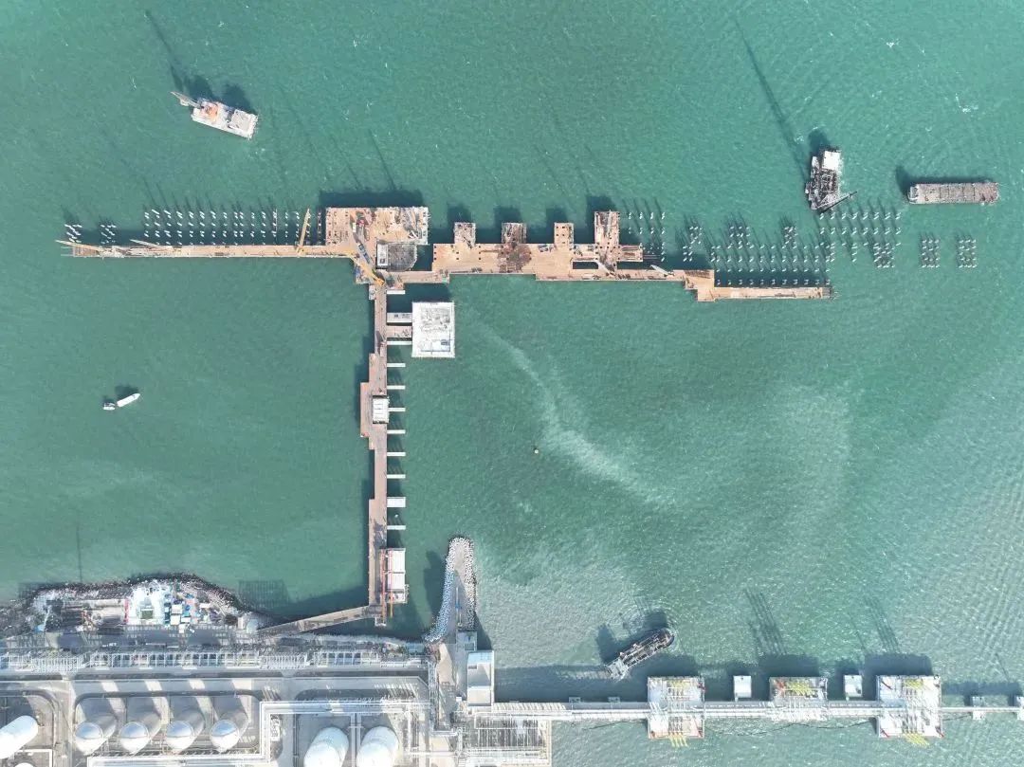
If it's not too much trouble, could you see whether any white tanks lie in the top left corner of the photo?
No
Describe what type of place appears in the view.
port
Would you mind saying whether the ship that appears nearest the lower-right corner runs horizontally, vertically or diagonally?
diagonally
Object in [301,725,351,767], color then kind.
white storage tank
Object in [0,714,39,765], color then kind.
white storage tank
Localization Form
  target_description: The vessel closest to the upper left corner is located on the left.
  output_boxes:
[170,91,255,137]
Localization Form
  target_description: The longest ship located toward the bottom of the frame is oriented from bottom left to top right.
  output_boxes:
[610,630,677,686]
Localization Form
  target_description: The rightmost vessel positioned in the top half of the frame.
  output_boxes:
[909,181,1000,204]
